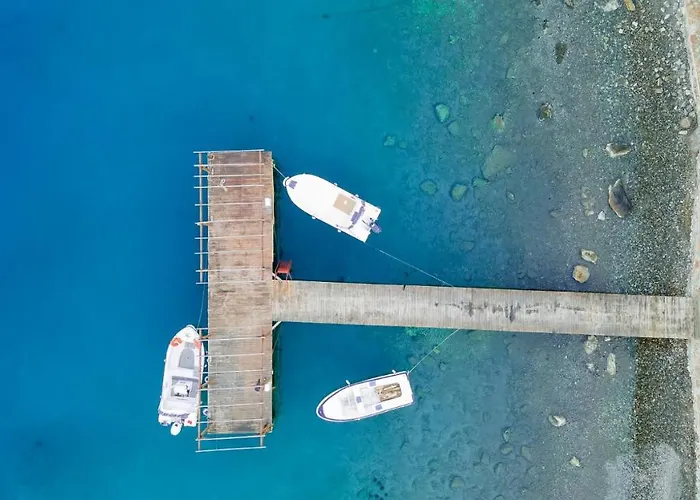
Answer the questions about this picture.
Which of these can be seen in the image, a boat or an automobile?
boat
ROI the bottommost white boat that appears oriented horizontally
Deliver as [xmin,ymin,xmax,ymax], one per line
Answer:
[316,369,414,421]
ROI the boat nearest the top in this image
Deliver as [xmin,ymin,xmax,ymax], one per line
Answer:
[282,175,383,242]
